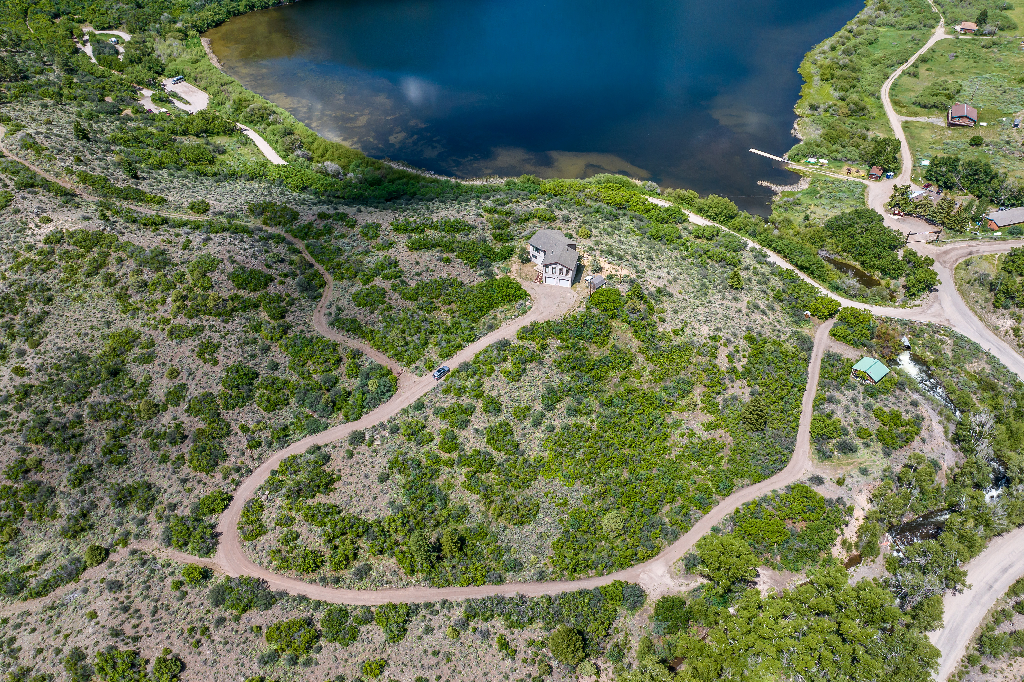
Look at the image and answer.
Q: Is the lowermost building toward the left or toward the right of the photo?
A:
right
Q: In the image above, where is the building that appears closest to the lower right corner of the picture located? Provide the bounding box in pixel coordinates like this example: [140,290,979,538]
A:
[850,359,893,388]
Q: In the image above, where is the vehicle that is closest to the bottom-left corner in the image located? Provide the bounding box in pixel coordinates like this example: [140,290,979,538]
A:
[431,364,453,379]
